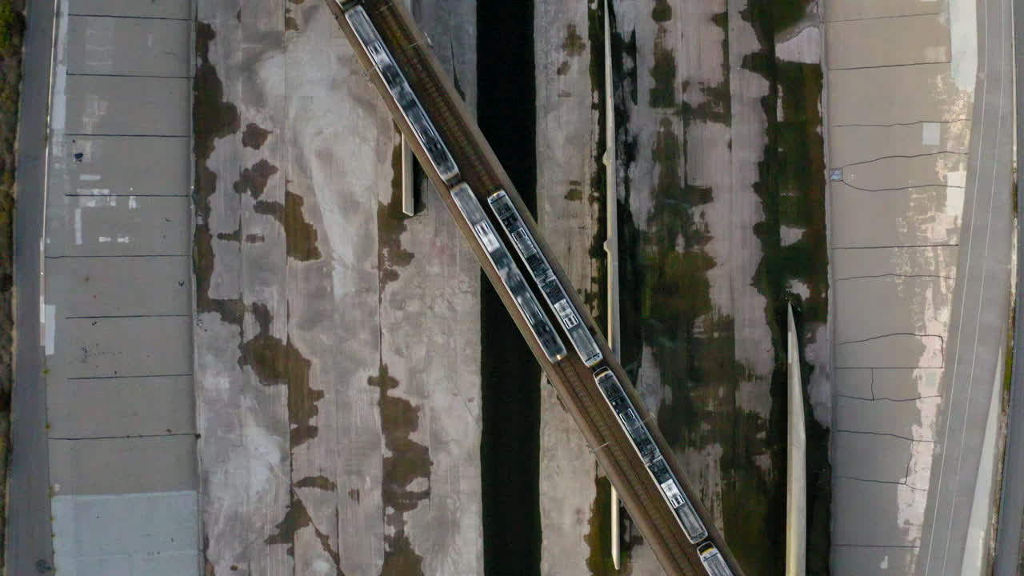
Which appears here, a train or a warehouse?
train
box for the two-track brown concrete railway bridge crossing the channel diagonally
[326,0,806,576]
